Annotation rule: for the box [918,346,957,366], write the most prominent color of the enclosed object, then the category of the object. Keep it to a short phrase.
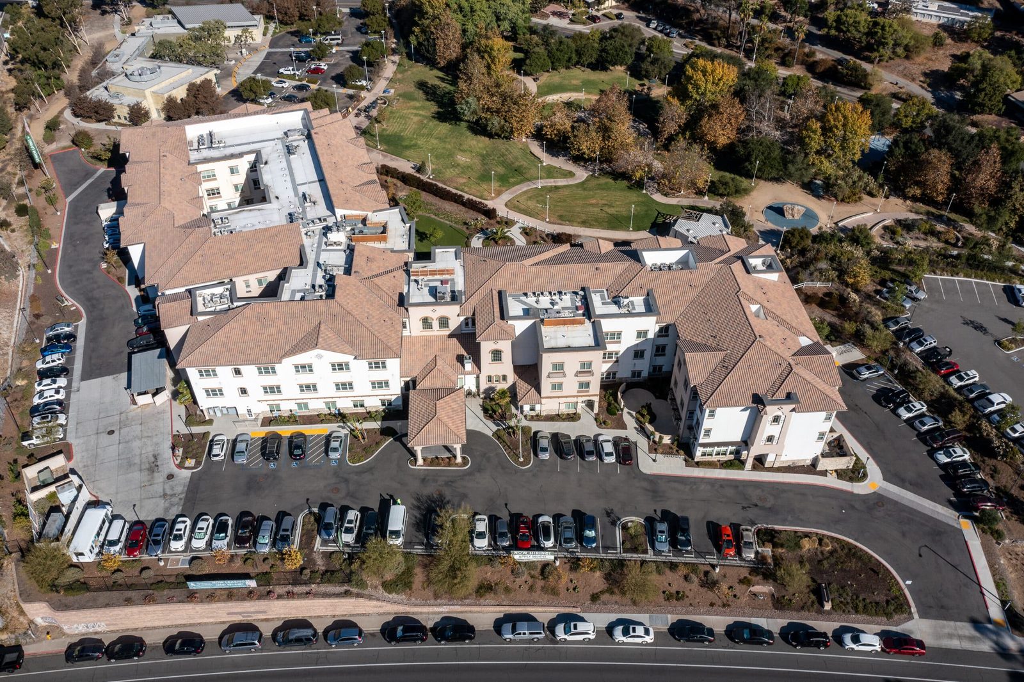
black vehicle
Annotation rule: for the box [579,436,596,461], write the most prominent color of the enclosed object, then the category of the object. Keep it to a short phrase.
gray car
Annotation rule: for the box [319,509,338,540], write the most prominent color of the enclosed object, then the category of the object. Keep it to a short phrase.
blue car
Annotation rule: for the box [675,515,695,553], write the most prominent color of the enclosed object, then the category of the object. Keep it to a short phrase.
black car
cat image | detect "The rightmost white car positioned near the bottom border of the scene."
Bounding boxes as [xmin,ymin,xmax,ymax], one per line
[840,632,883,655]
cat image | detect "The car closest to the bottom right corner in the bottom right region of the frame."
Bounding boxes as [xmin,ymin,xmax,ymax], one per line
[880,635,928,659]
